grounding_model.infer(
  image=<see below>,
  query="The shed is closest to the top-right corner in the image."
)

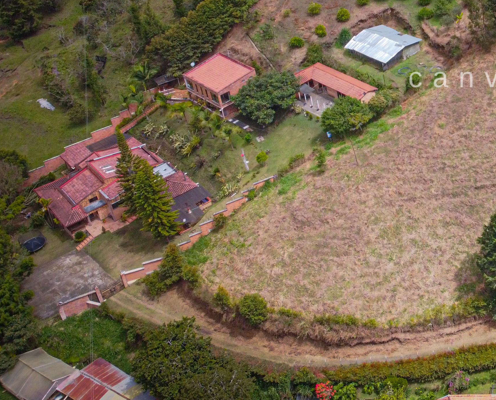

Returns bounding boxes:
[344,25,422,72]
